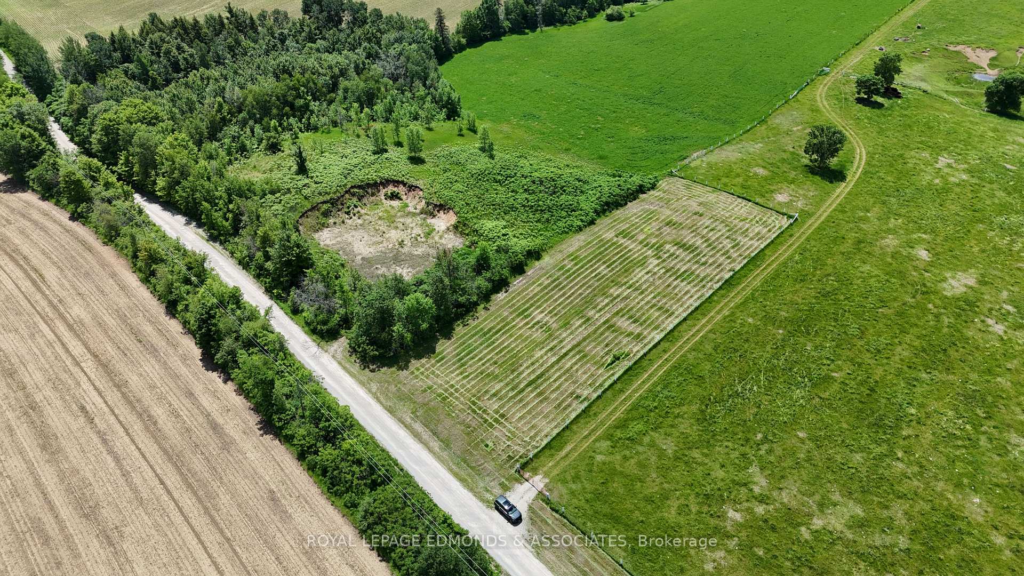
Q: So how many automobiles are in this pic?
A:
1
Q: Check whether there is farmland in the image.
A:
Yes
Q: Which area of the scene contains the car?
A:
bottom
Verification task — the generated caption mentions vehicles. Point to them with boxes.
[492,497,520,526]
